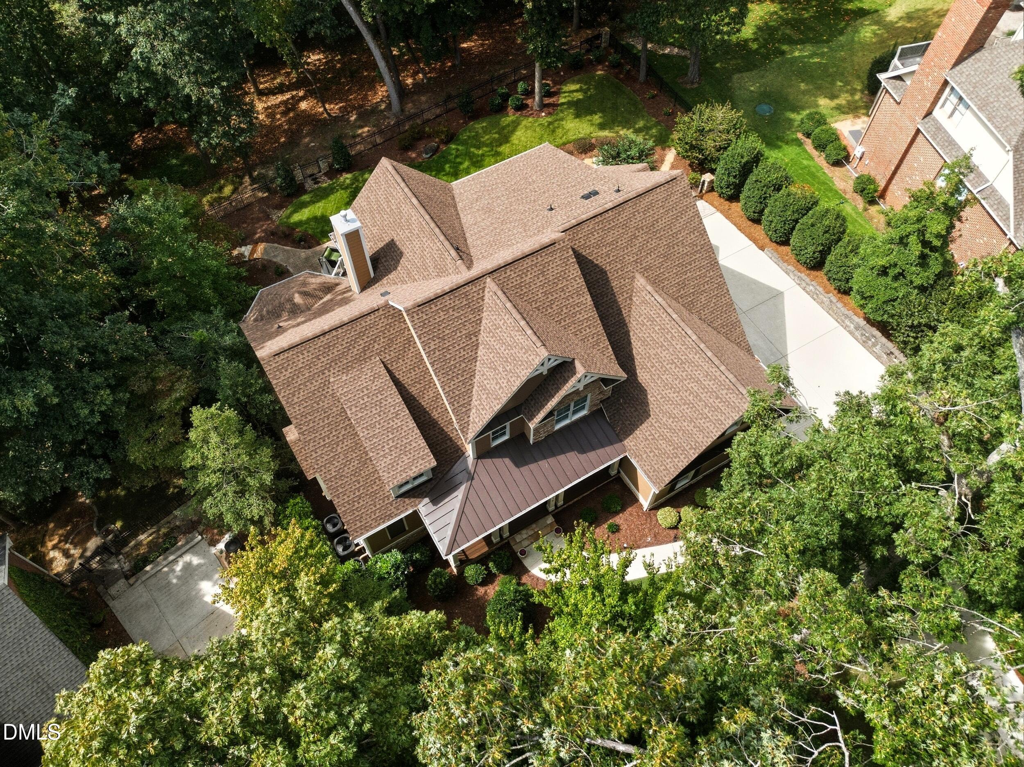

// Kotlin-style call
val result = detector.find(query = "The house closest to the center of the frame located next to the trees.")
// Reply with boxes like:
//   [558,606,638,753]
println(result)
[242,140,805,574]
